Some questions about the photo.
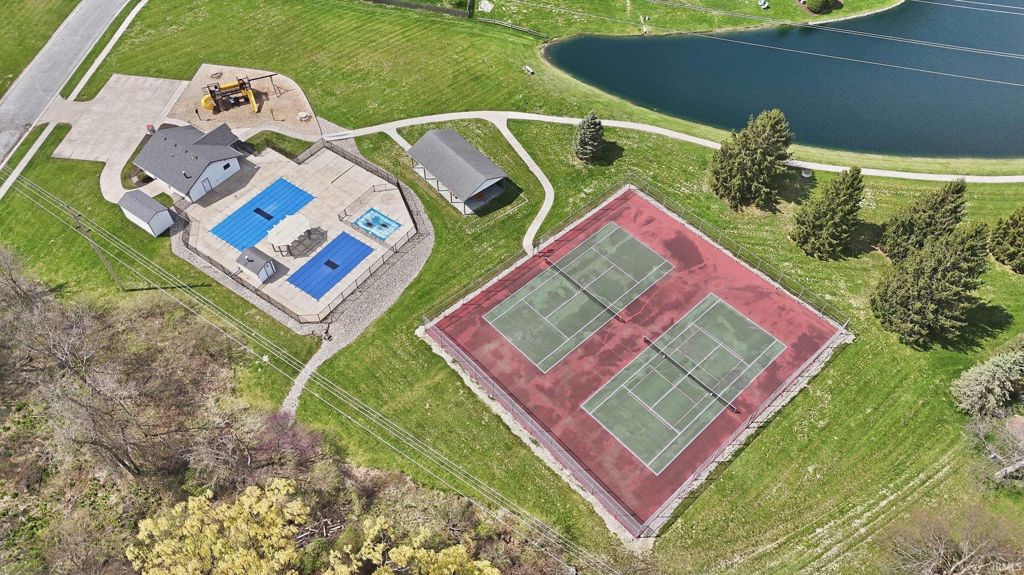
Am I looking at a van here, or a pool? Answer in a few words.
pool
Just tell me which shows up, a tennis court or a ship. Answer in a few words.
tennis court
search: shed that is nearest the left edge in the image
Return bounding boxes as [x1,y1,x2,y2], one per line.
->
[116,190,174,237]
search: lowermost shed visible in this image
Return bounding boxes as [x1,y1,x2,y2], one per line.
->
[233,245,276,283]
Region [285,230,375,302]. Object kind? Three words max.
swimming pool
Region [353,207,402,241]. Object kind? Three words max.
swimming pool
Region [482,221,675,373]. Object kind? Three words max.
tennis court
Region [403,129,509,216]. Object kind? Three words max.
building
